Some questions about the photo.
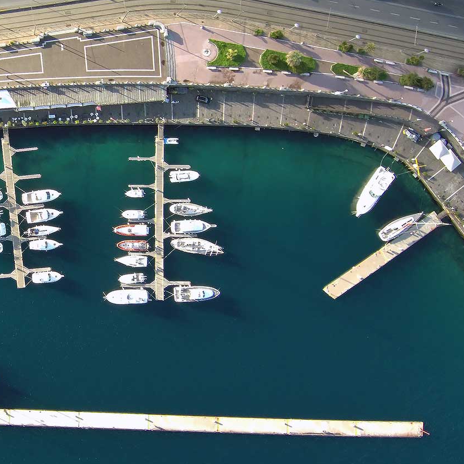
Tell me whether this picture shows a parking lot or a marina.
marina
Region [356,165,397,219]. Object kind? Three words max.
boat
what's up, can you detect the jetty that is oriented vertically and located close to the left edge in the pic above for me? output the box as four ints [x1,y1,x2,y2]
[0,125,52,288]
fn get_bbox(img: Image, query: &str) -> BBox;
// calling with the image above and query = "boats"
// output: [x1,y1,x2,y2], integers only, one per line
[356,165,397,219]
[165,201,214,216]
[20,189,63,206]
[166,219,219,234]
[164,138,180,144]
[115,240,153,250]
[24,208,63,223]
[100,288,154,304]
[0,221,9,237]
[121,189,148,197]
[380,213,442,242]
[112,223,153,237]
[118,210,149,219]
[169,285,221,302]
[22,225,63,237]
[116,273,146,283]
[27,271,64,284]
[168,234,225,256]
[164,170,200,182]
[25,239,63,251]
[113,254,154,268]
